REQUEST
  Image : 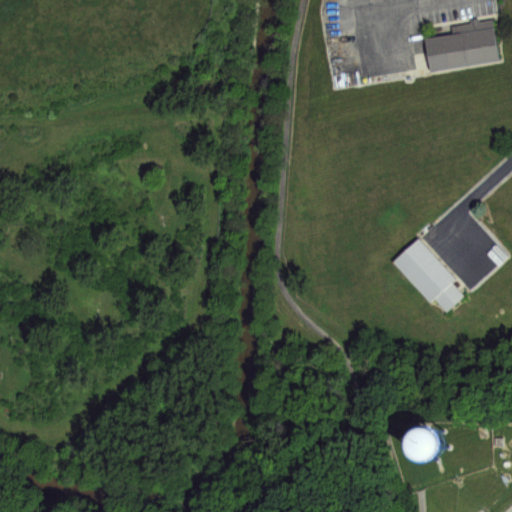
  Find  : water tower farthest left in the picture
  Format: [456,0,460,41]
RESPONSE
[402,422,452,464]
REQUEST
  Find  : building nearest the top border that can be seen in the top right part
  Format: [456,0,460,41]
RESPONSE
[425,16,500,72]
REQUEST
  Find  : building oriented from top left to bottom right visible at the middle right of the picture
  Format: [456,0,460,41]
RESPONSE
[394,239,465,310]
